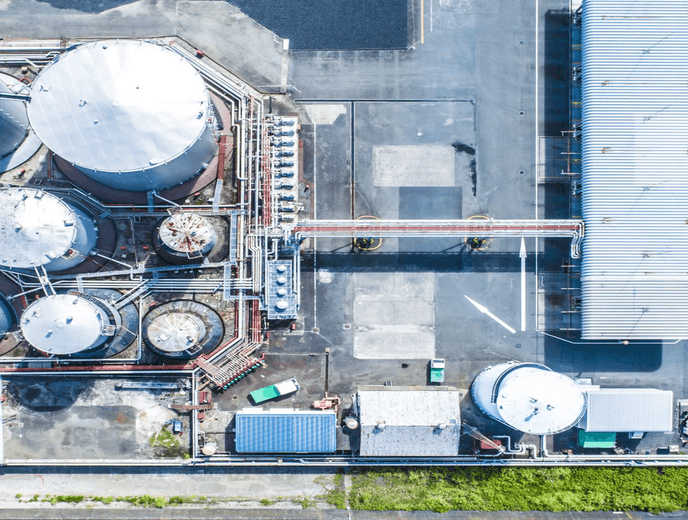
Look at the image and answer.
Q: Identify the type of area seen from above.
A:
industrial area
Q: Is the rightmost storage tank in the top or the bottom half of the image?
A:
bottom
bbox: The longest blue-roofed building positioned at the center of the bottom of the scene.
[233,408,337,454]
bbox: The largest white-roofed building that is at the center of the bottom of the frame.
[356,380,462,456]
